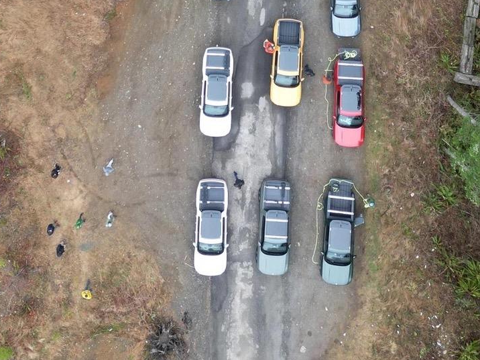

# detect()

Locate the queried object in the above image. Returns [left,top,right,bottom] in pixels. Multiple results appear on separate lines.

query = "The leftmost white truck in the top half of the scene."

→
[198,47,235,136]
